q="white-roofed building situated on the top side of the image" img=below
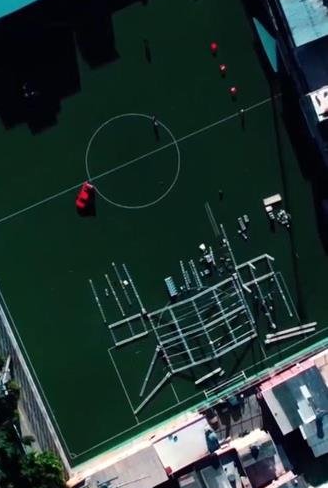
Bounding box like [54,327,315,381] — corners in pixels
[298,88,328,124]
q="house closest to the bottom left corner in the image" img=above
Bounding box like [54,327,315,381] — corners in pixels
[87,440,169,488]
